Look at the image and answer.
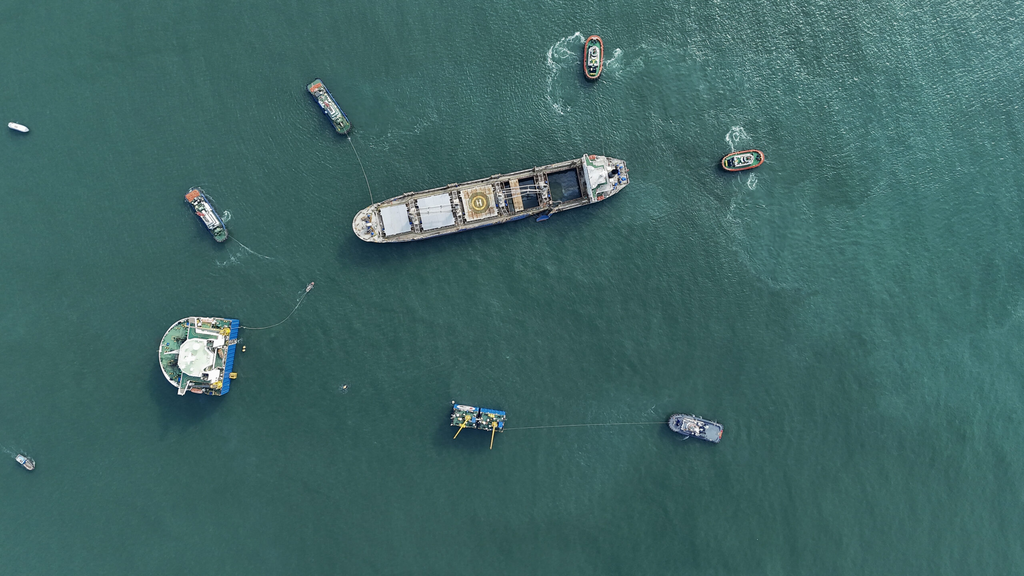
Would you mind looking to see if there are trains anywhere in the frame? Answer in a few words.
No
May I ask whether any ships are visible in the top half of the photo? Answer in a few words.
Yes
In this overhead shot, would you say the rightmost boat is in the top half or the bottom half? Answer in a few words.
top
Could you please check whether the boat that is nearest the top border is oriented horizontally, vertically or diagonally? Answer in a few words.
vertically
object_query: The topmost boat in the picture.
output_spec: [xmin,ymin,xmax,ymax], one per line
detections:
[583,35,604,81]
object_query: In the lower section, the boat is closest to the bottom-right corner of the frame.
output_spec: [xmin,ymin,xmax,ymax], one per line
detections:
[668,413,723,443]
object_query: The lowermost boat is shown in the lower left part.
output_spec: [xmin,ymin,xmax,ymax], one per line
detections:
[14,454,35,469]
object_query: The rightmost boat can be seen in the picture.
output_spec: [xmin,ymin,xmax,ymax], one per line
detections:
[720,149,765,173]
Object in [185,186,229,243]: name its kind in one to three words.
boat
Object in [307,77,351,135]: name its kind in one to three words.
boat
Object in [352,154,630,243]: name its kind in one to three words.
ship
